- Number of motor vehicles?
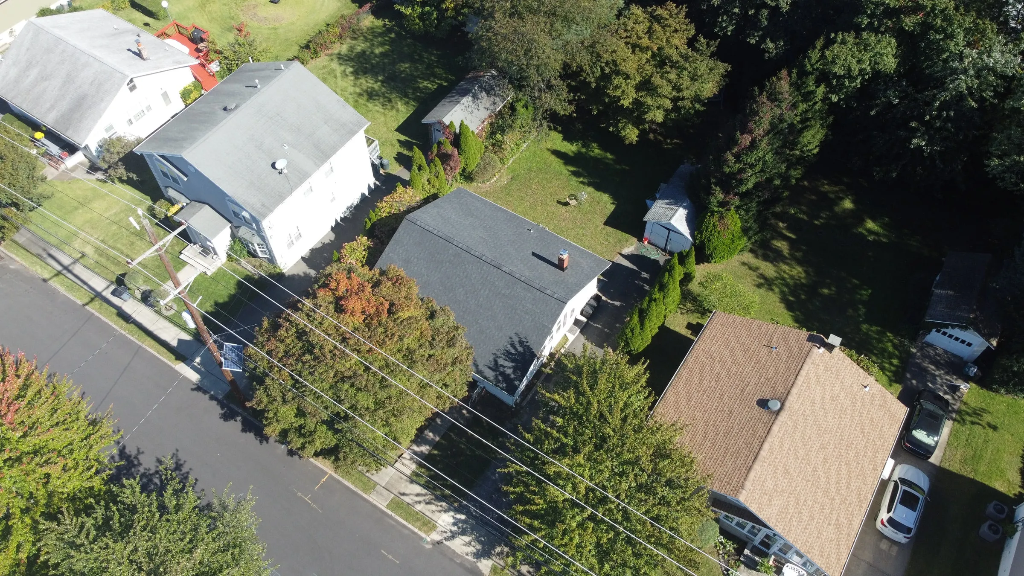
two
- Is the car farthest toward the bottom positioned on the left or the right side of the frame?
right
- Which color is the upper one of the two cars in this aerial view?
black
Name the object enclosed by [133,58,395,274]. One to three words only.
house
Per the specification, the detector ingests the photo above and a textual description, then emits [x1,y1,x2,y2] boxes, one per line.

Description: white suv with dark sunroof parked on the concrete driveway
[871,460,932,547]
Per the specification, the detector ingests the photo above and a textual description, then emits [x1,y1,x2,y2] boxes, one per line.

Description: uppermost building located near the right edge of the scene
[917,251,1018,364]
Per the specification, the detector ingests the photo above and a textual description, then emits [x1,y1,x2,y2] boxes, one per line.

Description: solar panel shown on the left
[222,342,244,372]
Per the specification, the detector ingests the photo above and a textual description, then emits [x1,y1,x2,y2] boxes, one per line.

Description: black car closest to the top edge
[898,382,949,460]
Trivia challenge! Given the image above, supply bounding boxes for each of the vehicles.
[871,460,932,547]
[898,382,949,460]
